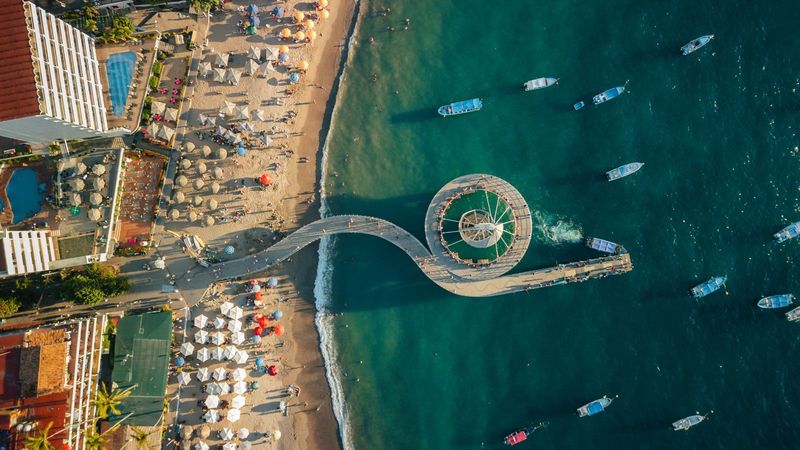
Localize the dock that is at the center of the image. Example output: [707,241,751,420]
[196,173,634,297]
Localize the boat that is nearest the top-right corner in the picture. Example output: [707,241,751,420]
[679,36,714,55]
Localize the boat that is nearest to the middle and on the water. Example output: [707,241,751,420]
[438,97,485,115]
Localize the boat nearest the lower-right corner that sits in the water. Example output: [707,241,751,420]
[670,415,705,430]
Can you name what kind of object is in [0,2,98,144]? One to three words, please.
building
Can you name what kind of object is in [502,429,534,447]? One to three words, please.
boat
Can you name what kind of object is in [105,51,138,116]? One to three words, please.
swimming pool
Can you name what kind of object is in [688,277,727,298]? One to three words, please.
boat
